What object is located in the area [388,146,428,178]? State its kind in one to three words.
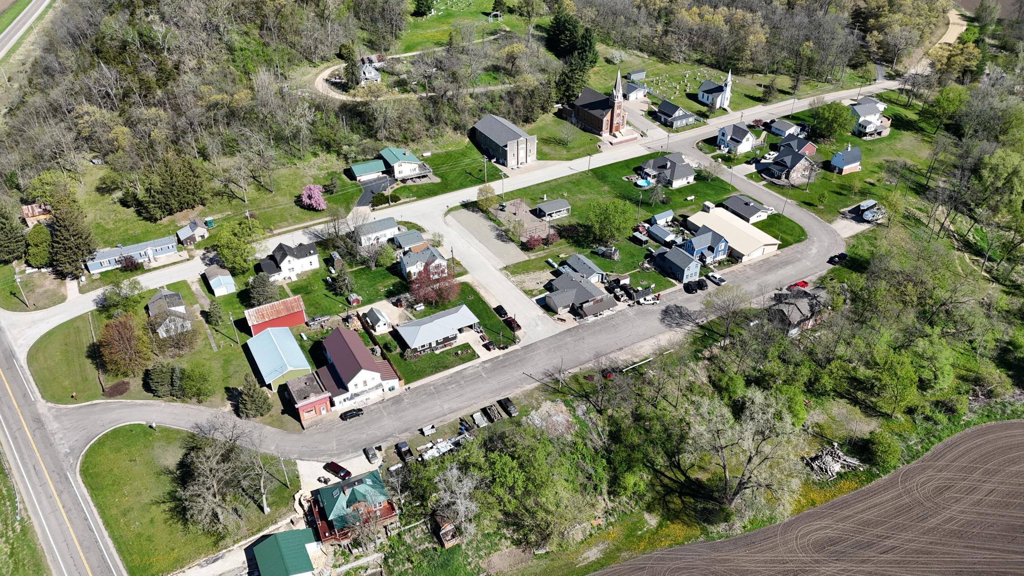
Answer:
house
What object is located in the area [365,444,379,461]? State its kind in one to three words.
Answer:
car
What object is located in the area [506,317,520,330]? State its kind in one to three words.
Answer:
vehicle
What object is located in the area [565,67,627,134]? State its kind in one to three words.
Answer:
building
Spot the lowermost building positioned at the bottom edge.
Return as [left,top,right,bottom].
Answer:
[253,528,338,576]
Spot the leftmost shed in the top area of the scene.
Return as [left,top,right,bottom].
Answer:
[25,200,55,223]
